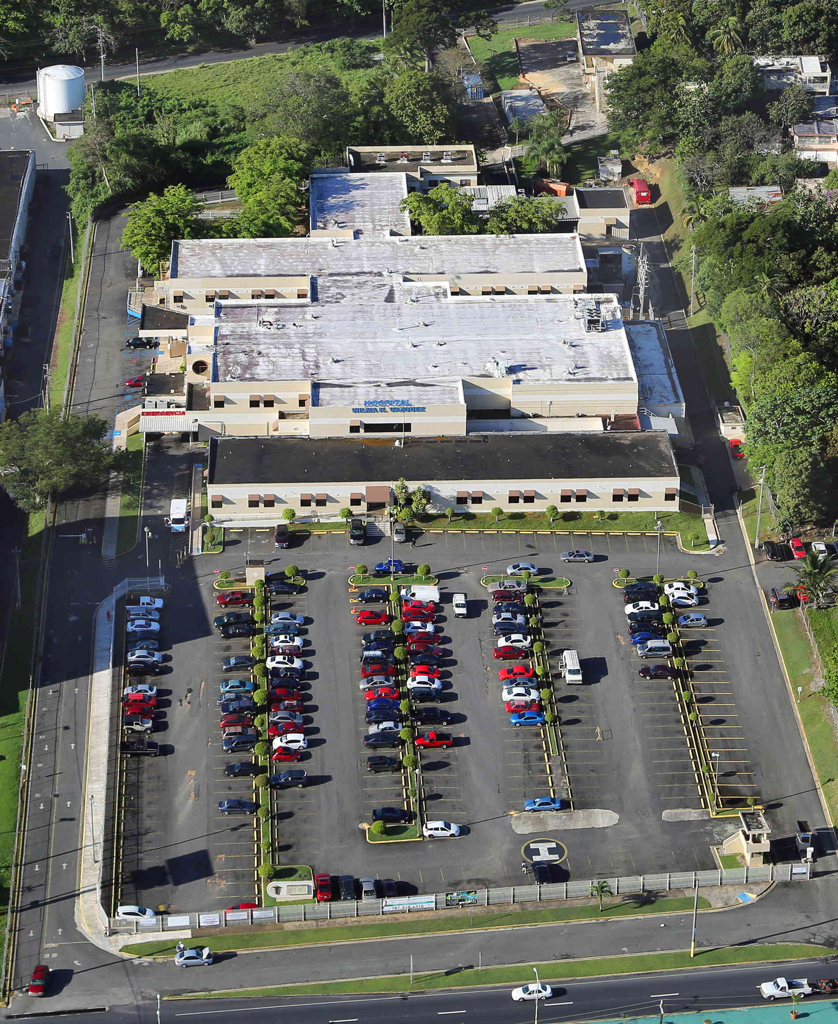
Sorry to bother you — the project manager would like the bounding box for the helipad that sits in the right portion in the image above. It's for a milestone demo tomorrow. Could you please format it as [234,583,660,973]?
[525,839,564,861]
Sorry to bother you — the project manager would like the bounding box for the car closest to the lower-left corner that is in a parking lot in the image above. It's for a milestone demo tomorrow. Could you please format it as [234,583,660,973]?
[28,958,48,993]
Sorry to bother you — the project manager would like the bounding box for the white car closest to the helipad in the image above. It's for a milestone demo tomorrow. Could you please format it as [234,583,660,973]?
[423,820,459,838]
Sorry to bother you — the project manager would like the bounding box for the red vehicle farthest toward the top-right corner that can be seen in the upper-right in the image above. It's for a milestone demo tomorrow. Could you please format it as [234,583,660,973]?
[632,175,652,202]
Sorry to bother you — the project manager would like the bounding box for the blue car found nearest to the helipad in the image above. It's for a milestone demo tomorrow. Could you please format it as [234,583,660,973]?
[524,796,560,812]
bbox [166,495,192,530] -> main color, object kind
white vehicle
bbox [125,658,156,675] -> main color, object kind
black car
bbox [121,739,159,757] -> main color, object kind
black vehicle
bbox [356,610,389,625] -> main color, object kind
red car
